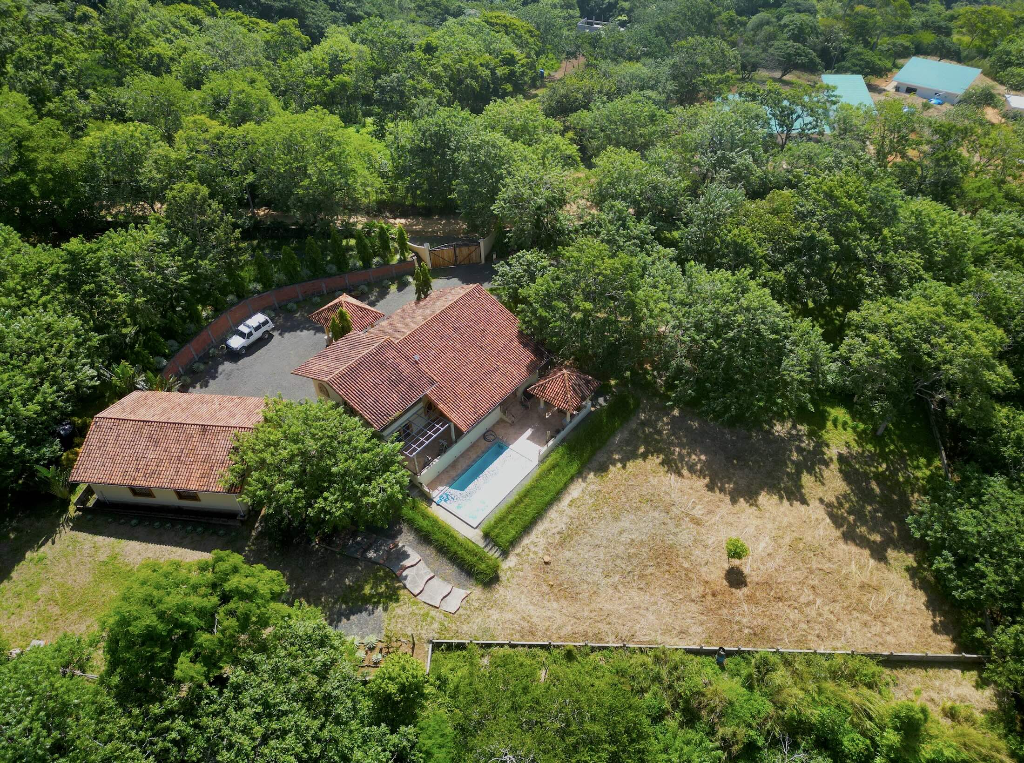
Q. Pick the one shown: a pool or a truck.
pool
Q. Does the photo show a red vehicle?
No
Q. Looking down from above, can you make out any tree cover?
Yes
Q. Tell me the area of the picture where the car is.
left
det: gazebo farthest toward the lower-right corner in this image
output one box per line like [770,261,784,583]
[524,360,602,425]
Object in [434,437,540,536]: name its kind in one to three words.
swimming pool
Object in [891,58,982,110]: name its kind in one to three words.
house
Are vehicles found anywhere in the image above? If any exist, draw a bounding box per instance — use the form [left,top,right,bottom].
[219,311,273,357]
